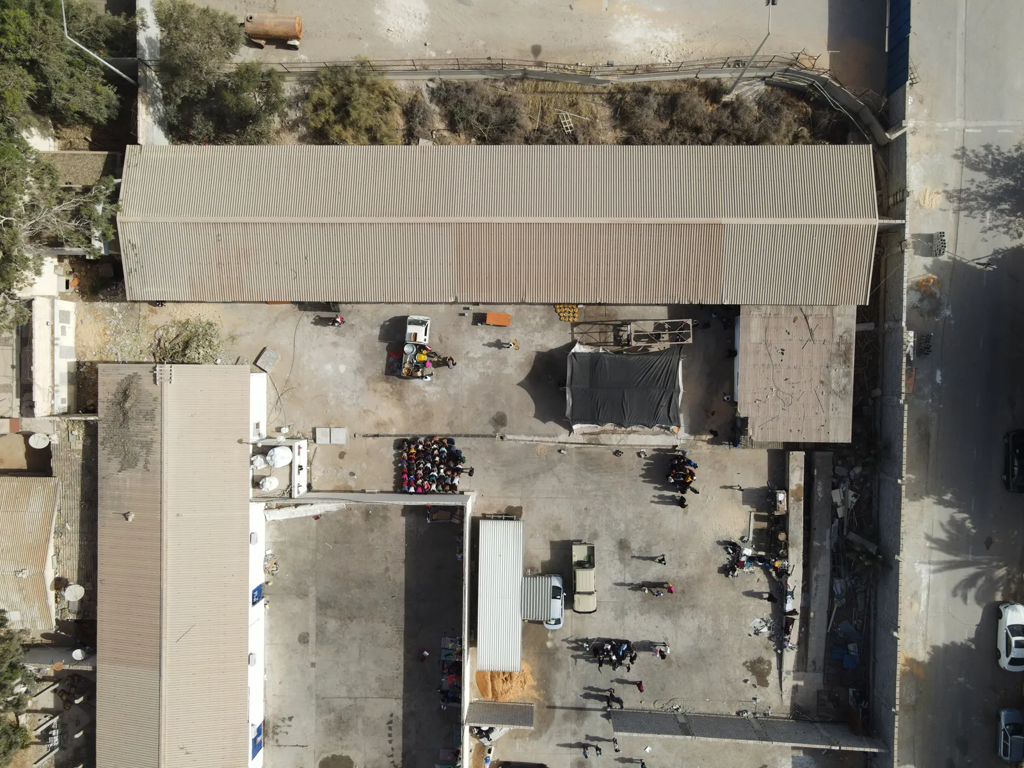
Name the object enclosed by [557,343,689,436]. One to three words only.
tent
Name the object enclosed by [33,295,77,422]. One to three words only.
house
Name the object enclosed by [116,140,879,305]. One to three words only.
shed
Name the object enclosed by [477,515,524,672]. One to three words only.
building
